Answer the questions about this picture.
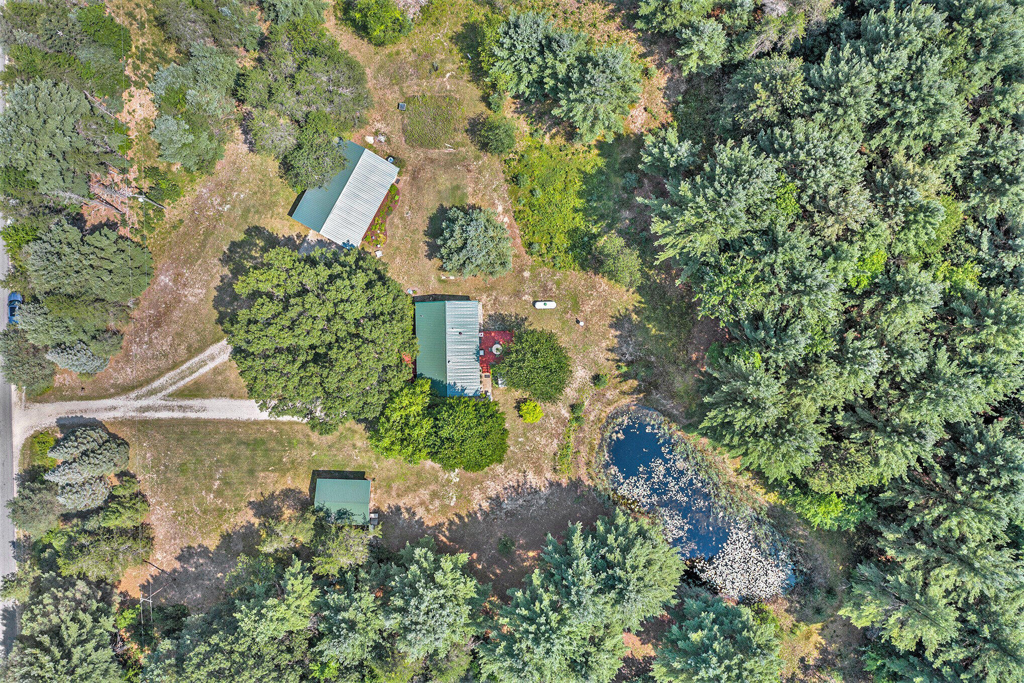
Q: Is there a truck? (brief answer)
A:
No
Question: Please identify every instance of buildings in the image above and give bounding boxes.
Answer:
[291,134,400,253]
[314,477,372,525]
[414,300,480,398]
